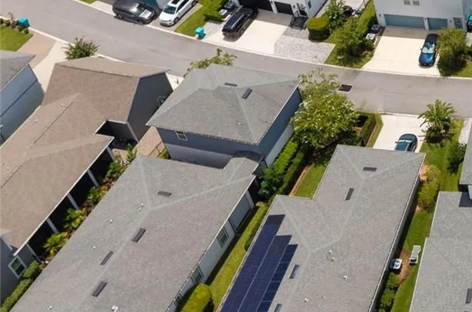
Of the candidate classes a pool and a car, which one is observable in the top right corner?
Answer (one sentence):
There is a car in the top right corner.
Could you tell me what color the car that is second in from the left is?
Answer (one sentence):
The color of the car that is second in from the left is white.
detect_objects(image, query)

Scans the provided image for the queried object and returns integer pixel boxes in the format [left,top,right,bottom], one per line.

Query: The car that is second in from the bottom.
[418,33,440,66]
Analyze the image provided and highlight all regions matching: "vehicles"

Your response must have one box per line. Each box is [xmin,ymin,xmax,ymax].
[393,128,419,152]
[111,0,156,21]
[219,4,260,38]
[158,0,198,22]
[418,33,440,66]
